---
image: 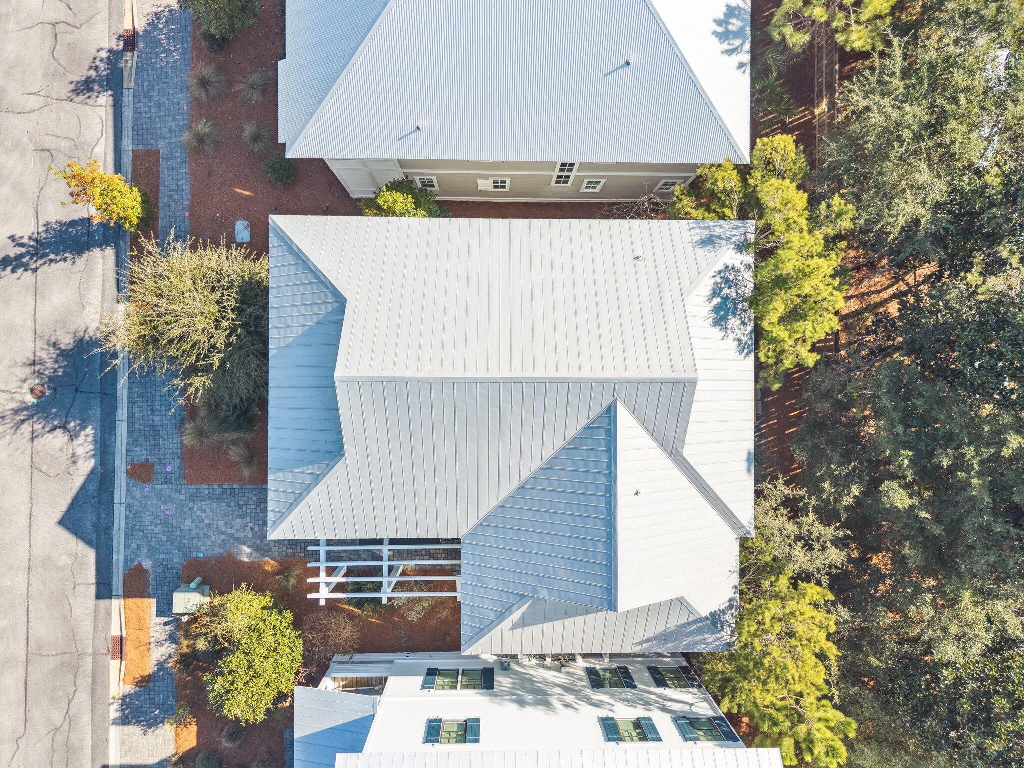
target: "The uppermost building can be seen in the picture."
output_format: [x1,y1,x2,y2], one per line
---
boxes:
[278,0,751,203]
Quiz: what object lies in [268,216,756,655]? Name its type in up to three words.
house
